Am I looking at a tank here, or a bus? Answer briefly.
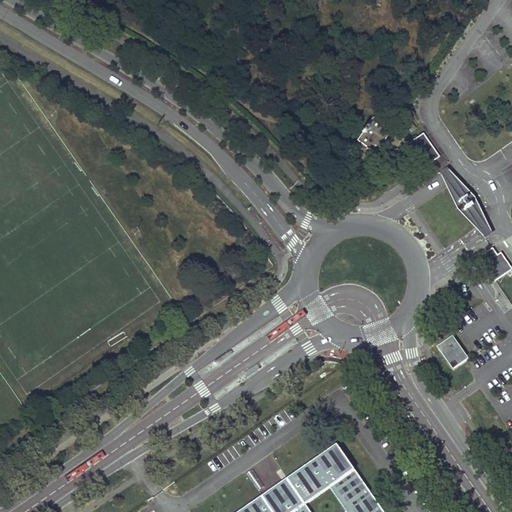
bus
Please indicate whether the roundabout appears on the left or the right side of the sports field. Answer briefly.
on the right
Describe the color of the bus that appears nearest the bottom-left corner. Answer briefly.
red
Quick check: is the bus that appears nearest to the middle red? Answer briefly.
Yes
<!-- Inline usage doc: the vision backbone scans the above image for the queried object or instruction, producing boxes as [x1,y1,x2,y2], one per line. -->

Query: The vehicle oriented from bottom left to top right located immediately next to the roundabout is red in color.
[267,309,308,340]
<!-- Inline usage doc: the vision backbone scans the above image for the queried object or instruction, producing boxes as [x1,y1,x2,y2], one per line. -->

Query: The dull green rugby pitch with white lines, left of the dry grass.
[0,62,164,399]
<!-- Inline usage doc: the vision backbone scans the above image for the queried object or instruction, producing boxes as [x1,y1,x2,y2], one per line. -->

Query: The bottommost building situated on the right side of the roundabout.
[437,336,468,370]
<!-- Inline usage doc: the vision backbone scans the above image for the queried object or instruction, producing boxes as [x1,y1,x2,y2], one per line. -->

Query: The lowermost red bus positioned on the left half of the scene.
[66,450,108,482]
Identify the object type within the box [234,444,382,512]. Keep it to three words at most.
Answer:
building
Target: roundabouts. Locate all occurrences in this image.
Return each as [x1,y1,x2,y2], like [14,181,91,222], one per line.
[297,213,430,346]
